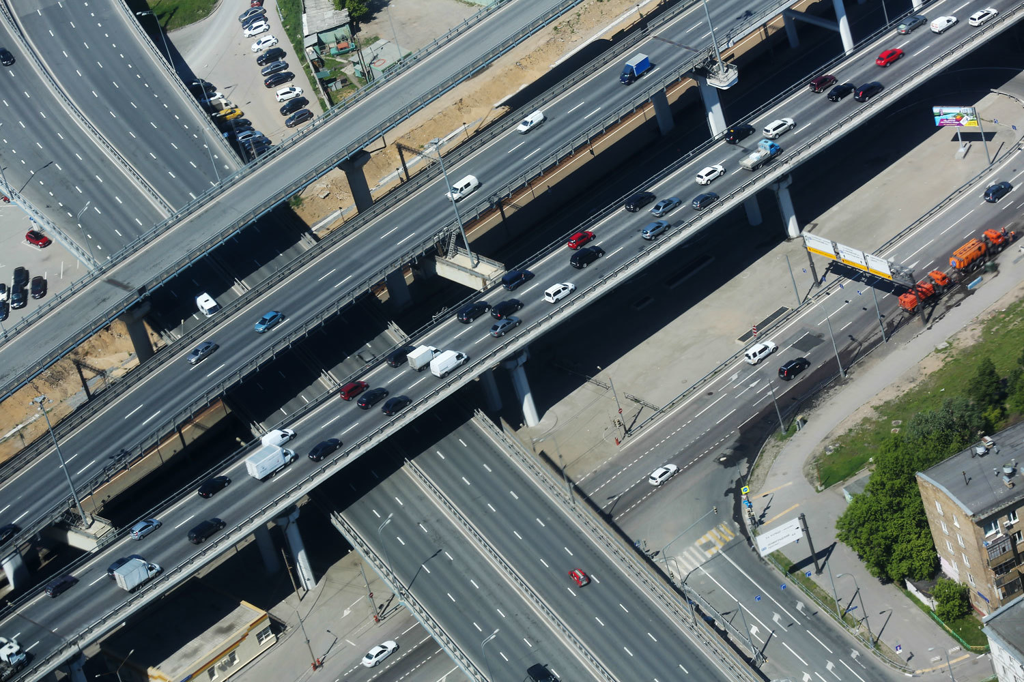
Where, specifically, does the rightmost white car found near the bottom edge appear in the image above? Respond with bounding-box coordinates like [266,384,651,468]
[363,642,397,667]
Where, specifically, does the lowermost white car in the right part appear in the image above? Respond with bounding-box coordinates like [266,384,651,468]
[648,464,678,486]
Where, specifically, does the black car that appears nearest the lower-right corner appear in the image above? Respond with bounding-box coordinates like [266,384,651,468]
[777,357,810,381]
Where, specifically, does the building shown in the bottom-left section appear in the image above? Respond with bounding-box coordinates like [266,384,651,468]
[104,573,279,682]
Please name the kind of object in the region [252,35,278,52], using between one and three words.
car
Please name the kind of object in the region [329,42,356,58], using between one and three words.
car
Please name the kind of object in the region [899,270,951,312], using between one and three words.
truck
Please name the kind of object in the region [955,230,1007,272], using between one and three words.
truck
